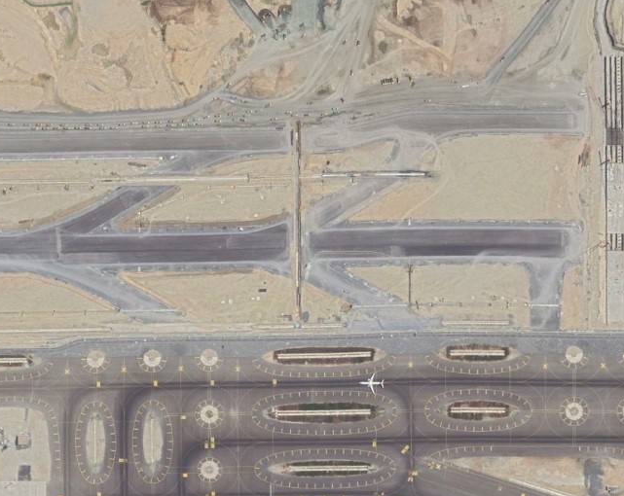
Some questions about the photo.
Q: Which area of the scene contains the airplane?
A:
bottom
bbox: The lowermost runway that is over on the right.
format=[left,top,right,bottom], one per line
[306,176,582,331]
